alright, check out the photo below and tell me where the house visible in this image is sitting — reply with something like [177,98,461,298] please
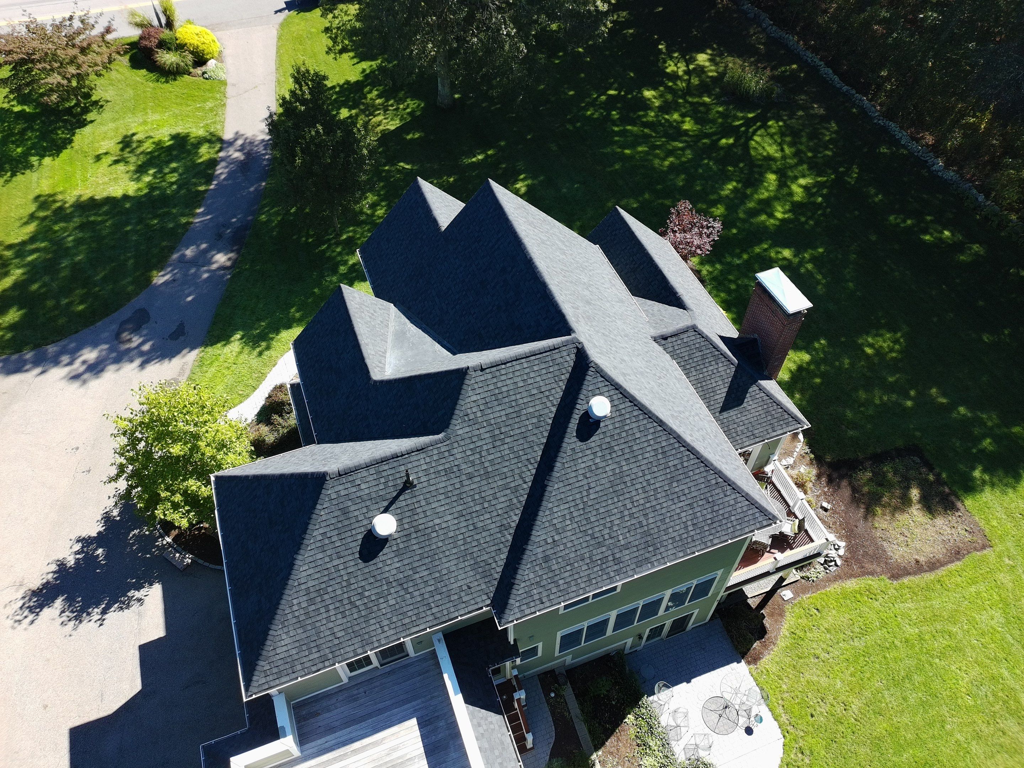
[200,177,815,768]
